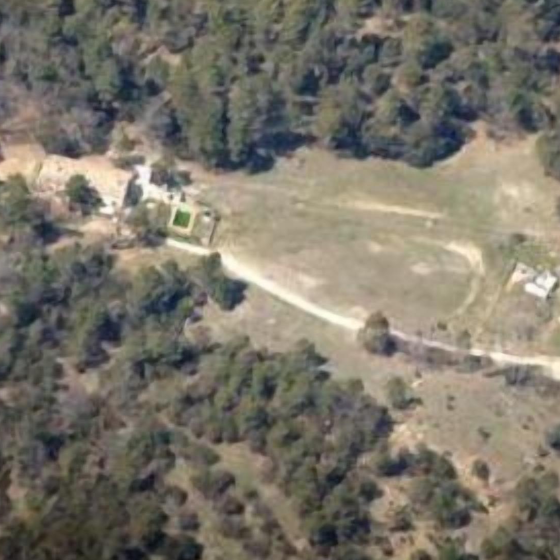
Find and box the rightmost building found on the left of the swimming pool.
[88,164,136,219]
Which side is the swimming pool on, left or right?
left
